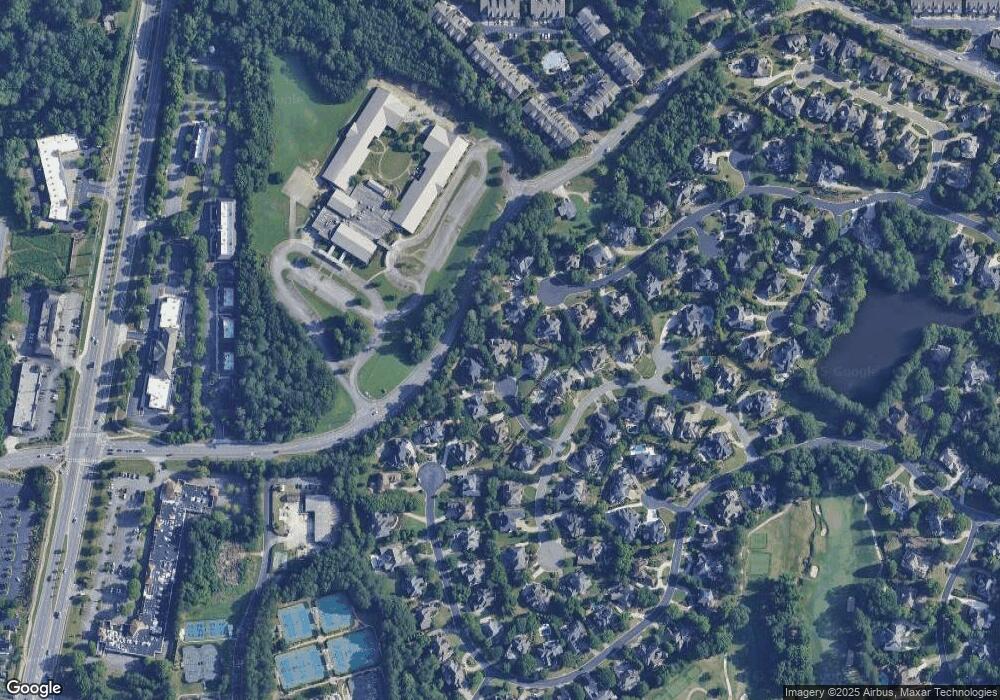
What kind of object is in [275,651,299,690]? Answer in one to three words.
tennis court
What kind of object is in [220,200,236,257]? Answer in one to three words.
building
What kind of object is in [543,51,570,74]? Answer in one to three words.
swimming pool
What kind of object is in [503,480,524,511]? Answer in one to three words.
house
